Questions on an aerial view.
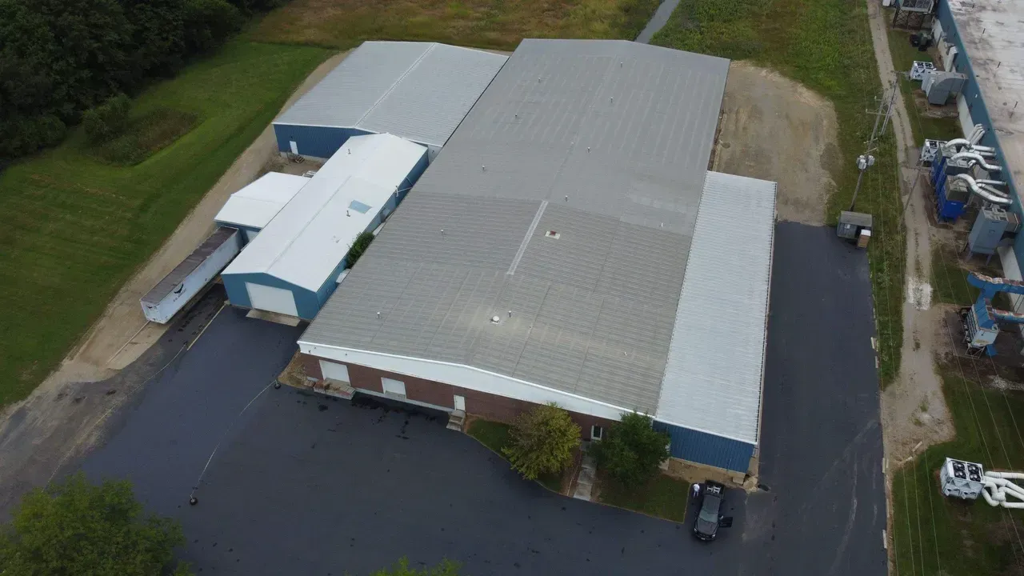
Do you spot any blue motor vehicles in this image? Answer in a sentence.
No, the picture doesn't show any blue motor vehicle.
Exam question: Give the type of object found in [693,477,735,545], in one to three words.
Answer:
truck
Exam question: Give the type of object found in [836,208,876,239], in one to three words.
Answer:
shed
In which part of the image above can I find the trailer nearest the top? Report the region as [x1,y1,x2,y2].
[140,225,243,326]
